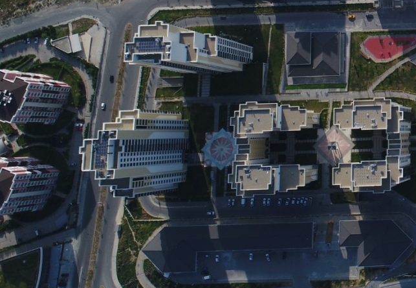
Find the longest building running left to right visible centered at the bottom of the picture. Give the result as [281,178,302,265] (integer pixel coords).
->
[141,222,315,272]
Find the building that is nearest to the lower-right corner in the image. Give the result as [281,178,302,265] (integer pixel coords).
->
[340,220,413,266]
